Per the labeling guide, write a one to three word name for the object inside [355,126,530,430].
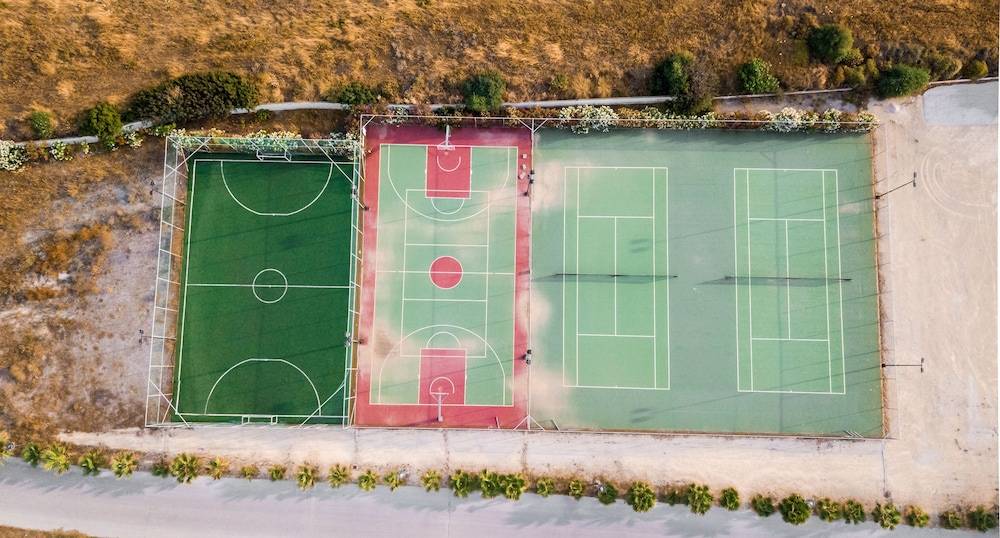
basketball court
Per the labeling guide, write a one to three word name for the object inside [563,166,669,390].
tennis court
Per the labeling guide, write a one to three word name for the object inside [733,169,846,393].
tennis court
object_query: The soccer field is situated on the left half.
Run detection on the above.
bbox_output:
[171,153,361,424]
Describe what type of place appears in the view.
sports ground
